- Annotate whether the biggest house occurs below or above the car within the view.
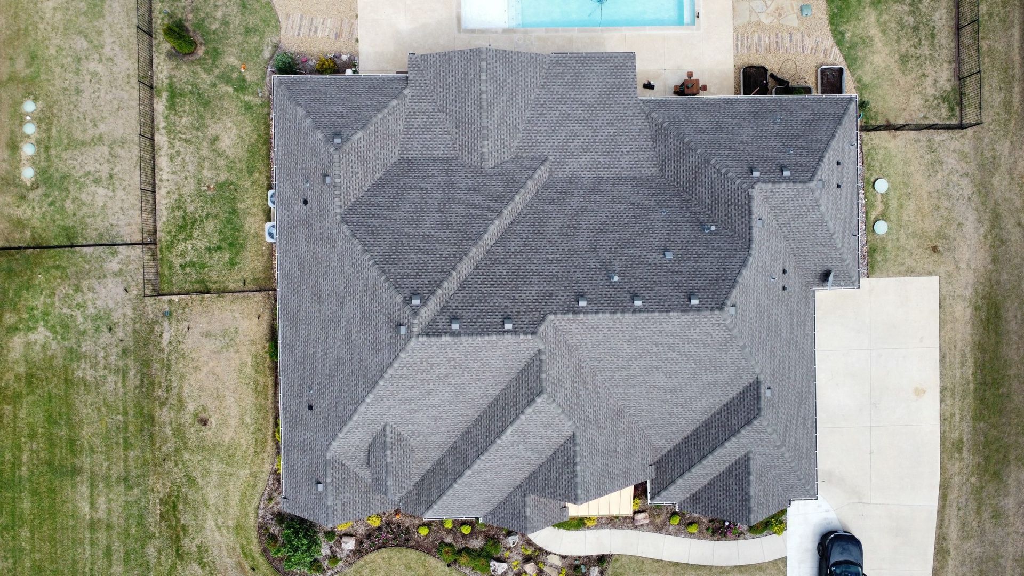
above it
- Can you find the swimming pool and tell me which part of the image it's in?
top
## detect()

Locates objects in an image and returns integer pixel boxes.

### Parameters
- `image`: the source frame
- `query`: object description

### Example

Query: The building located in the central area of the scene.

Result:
[272,48,861,534]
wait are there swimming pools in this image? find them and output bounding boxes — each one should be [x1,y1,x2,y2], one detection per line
[455,0,701,34]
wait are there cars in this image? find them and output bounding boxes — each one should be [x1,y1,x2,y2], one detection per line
[815,530,867,576]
